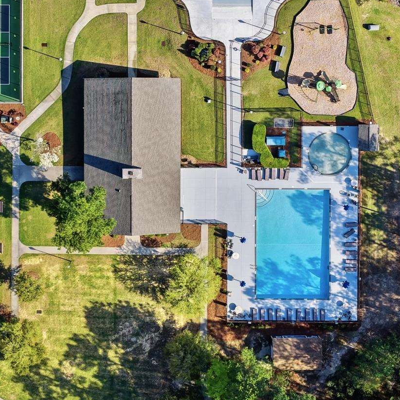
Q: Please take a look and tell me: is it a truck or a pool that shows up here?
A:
pool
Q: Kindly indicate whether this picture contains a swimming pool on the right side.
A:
Yes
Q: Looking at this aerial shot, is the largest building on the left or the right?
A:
left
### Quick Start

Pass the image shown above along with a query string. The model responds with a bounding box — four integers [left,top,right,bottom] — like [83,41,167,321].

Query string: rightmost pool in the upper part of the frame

[306,131,352,176]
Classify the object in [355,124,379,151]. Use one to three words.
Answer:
shed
